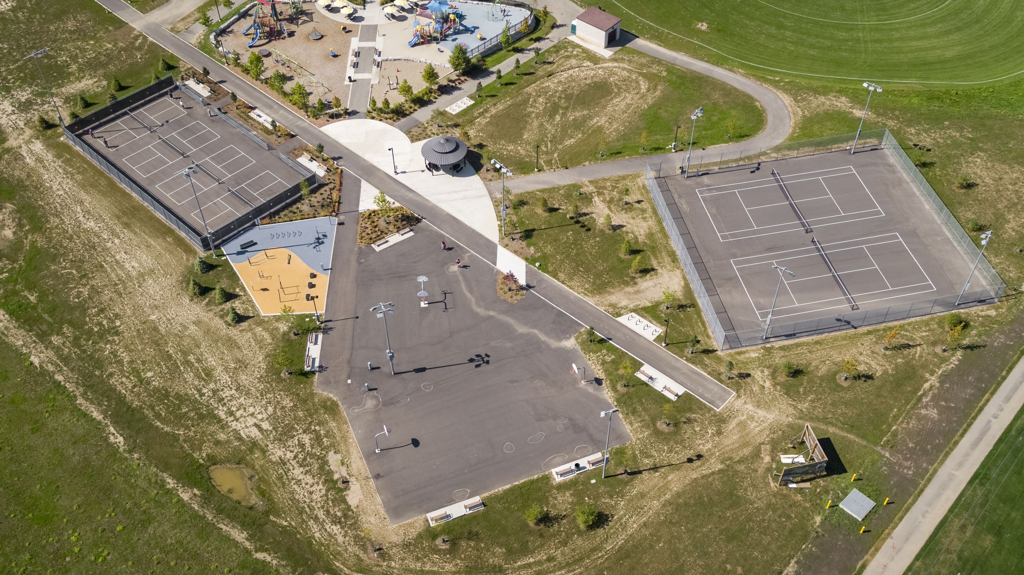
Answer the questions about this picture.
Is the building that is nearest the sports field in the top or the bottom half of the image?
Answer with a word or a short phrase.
top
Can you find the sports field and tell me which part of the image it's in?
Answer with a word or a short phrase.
top right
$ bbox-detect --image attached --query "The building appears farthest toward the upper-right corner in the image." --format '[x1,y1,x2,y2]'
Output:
[575,3,624,48]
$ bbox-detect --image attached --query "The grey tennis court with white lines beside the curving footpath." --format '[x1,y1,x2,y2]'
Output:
[645,143,939,257]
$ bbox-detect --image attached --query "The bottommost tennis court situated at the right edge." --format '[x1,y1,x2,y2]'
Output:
[679,216,1001,352]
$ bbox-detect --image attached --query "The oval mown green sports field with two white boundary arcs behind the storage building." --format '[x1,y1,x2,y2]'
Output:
[605,0,1024,89]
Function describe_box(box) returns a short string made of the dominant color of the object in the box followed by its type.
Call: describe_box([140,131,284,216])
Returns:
gray sports court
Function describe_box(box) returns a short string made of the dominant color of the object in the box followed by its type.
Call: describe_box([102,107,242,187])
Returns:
gray sports court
